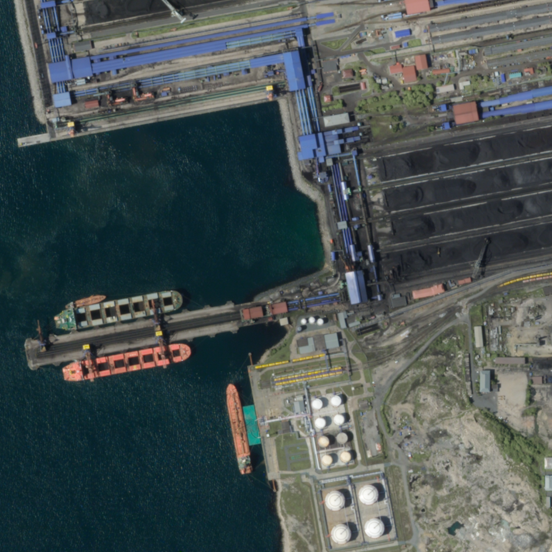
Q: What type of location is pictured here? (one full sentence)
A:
This looks like a port.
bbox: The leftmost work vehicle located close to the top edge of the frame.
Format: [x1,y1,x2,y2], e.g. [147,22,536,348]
[162,0,186,23]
